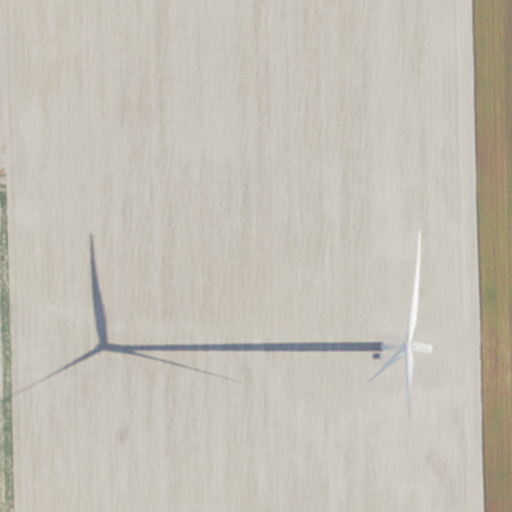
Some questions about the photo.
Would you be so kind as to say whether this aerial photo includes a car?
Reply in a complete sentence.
No, the photo shows no car.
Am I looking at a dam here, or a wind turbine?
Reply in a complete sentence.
This aerial view contains a wind turbine.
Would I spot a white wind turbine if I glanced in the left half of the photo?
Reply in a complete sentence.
No, in the left half of the photo there is no white wind turbine.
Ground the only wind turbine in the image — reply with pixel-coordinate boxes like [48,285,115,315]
[370,230,431,420]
